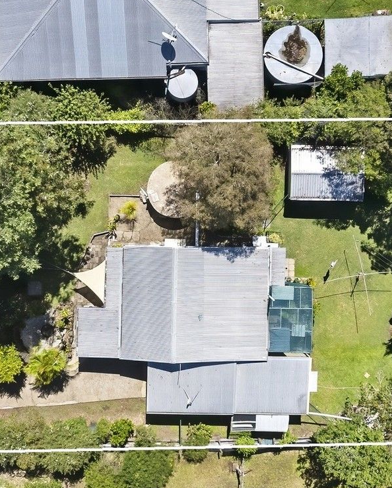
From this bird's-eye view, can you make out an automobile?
No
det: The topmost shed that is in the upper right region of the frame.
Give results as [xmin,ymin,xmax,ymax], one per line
[324,14,392,80]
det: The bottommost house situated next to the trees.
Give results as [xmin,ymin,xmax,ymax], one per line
[75,237,318,434]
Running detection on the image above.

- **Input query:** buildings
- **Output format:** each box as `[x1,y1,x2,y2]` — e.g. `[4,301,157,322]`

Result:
[288,145,365,203]
[75,237,318,434]
[0,0,264,109]
[324,14,392,80]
